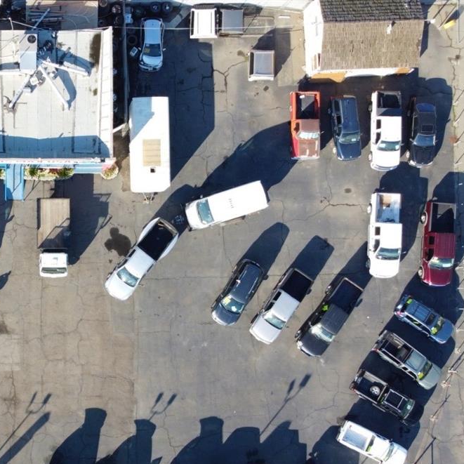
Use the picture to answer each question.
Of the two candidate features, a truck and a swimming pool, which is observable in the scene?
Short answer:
truck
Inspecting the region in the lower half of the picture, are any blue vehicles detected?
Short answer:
Yes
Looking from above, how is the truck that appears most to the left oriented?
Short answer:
up and down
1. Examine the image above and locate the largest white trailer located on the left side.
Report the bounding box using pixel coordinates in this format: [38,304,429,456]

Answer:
[123,98,170,209]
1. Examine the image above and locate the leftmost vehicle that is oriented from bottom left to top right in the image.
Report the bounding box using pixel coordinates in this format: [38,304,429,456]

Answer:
[107,217,180,301]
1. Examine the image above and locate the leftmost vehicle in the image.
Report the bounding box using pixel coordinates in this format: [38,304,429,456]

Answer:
[36,199,72,279]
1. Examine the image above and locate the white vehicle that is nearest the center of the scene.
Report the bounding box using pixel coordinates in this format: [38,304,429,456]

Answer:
[185,179,270,229]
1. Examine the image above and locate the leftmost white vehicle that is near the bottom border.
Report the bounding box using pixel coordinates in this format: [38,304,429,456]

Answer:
[334,420,403,464]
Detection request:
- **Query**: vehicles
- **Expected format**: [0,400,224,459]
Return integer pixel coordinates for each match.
[365,191,404,279]
[250,265,315,345]
[107,217,180,301]
[299,276,367,357]
[288,91,324,162]
[367,90,405,173]
[404,99,440,169]
[334,420,403,464]
[419,201,459,286]
[348,368,421,427]
[369,328,438,389]
[328,96,363,160]
[138,20,166,73]
[393,297,449,342]
[185,179,270,229]
[36,199,72,279]
[212,258,262,324]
